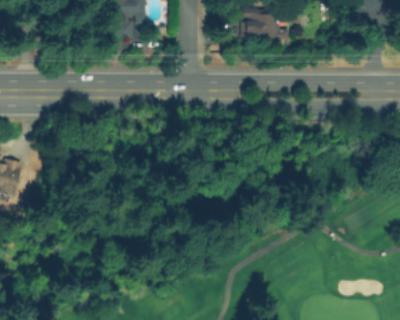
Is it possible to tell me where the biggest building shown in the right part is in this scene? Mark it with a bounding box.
[237,8,290,40]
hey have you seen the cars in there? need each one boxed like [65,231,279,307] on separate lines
[82,75,93,80]
[147,42,159,47]
[132,42,144,48]
[173,86,184,90]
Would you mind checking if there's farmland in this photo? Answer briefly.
No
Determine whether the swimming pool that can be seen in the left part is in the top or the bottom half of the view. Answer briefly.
top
